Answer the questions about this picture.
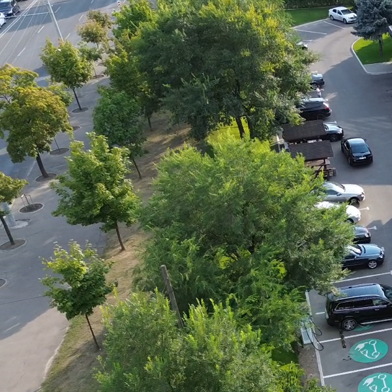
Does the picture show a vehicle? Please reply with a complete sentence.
Yes, looking at the shot, I can spot a vehicle.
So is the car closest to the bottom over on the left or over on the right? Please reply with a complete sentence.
The car closest to the bottom is on the right side of the image.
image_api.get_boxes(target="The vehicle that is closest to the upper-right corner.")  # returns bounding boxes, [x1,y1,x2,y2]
[329,7,356,23]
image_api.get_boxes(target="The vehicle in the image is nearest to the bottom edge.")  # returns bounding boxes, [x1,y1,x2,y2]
[325,281,392,330]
